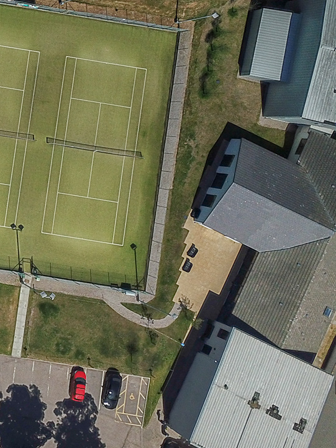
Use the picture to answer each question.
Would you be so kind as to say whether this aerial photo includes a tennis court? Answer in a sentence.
Yes, the picture does show a tennis court.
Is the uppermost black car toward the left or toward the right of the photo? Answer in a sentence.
It is on the left.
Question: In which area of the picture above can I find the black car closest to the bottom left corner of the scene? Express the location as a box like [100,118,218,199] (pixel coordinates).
[100,368,121,407]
